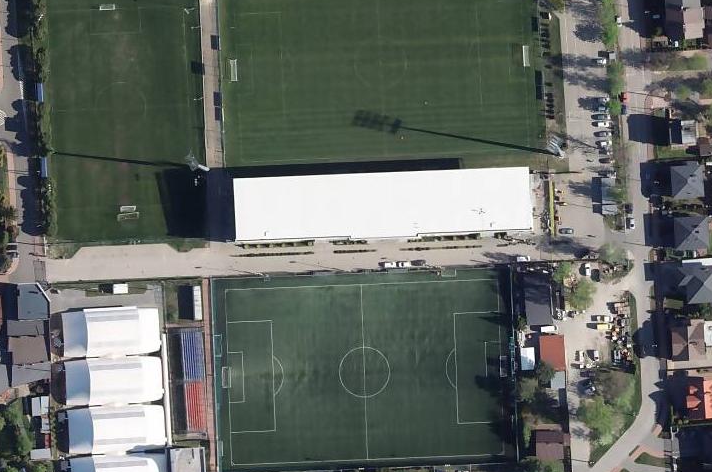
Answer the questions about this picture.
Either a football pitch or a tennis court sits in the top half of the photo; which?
football pitch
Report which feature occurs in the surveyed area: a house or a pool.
house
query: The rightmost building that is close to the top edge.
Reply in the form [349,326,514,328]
[664,0,712,47]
